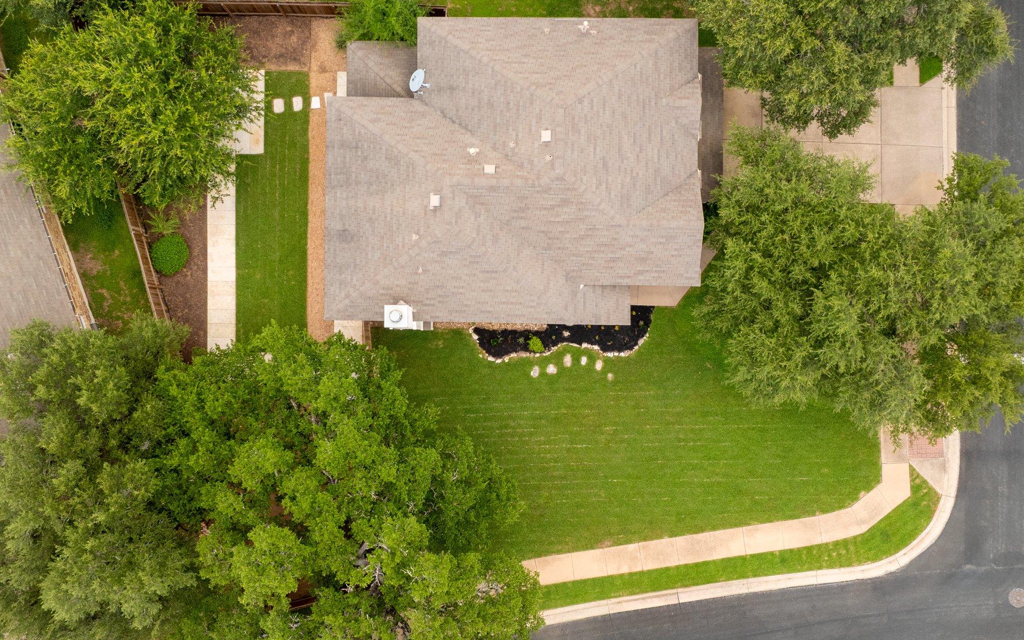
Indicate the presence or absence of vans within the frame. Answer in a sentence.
No, the picture doesn't show any van.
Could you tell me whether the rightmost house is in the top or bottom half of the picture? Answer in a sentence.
Seen from above, the rightmost house lies in the top half of the view.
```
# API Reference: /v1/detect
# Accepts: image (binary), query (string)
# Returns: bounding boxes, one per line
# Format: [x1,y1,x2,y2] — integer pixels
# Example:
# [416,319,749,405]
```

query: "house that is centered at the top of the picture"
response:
[322,15,726,330]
